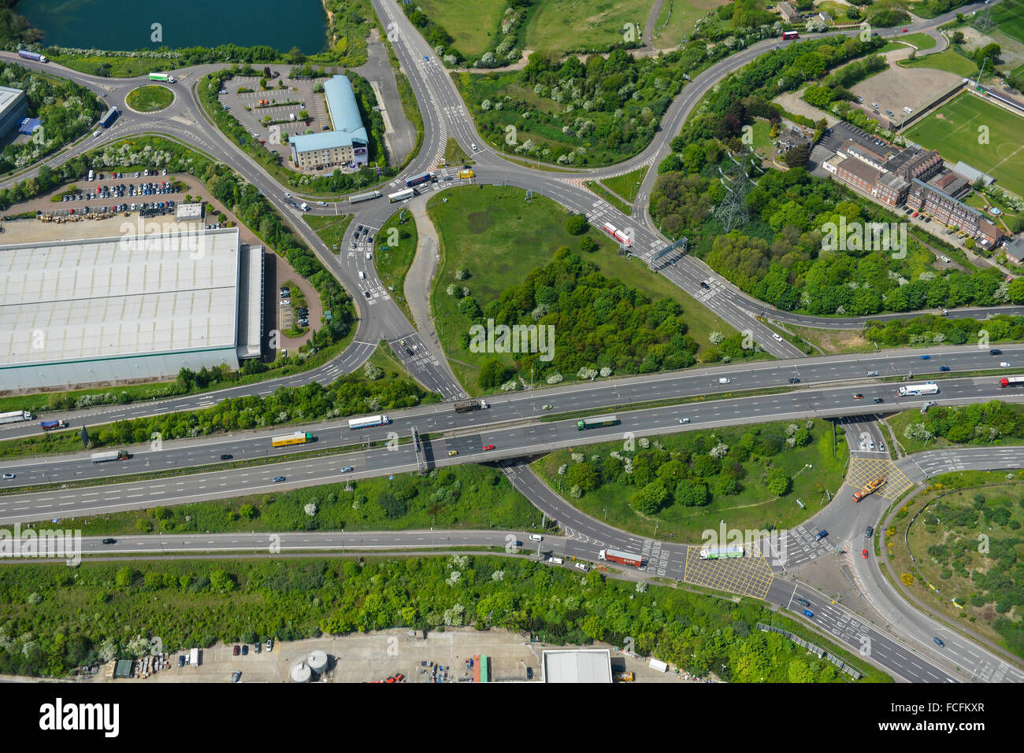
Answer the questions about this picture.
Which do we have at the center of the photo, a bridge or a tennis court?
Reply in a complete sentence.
What appears at the center of the photo is a bridge.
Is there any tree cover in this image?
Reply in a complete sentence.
Yes, the picture does contain tree cover.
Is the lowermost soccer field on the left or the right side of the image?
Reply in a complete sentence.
The lowermost soccer field appears in the right half of the scene.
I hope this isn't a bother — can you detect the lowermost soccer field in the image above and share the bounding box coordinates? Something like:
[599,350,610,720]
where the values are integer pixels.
[901,90,1024,202]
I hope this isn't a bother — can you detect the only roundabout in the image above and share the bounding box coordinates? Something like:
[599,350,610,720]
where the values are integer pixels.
[124,85,176,113]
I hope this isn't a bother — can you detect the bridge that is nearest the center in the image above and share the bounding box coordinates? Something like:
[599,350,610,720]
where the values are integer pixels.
[394,382,583,474]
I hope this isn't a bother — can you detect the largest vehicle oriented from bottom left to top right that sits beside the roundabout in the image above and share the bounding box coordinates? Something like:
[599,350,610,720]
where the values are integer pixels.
[99,108,119,126]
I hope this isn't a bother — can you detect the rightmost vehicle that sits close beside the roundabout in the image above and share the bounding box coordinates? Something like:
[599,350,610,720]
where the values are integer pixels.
[148,71,177,83]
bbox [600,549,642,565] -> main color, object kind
white vehicle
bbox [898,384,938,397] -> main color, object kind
white vehicle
